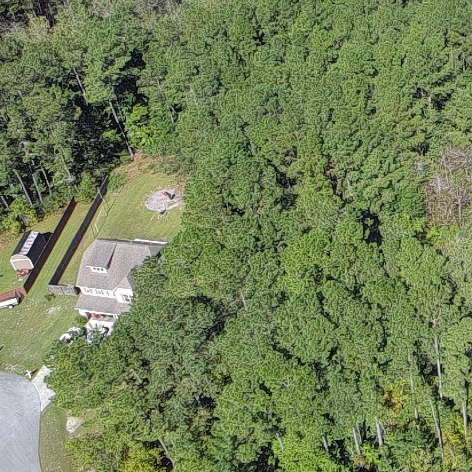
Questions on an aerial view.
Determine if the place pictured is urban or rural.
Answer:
rural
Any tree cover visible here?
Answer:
Yes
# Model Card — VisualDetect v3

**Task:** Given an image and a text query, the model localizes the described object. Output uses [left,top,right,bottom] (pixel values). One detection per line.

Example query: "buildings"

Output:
[0,230,46,272]
[72,244,182,328]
